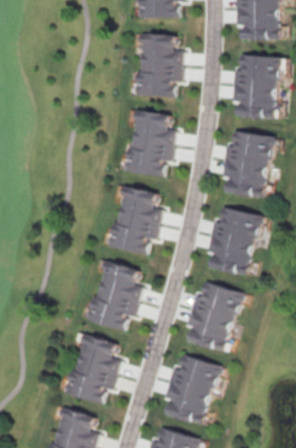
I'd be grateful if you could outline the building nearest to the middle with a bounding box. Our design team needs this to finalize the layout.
[104,186,170,254]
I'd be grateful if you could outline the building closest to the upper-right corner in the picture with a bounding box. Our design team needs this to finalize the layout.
[234,0,296,41]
